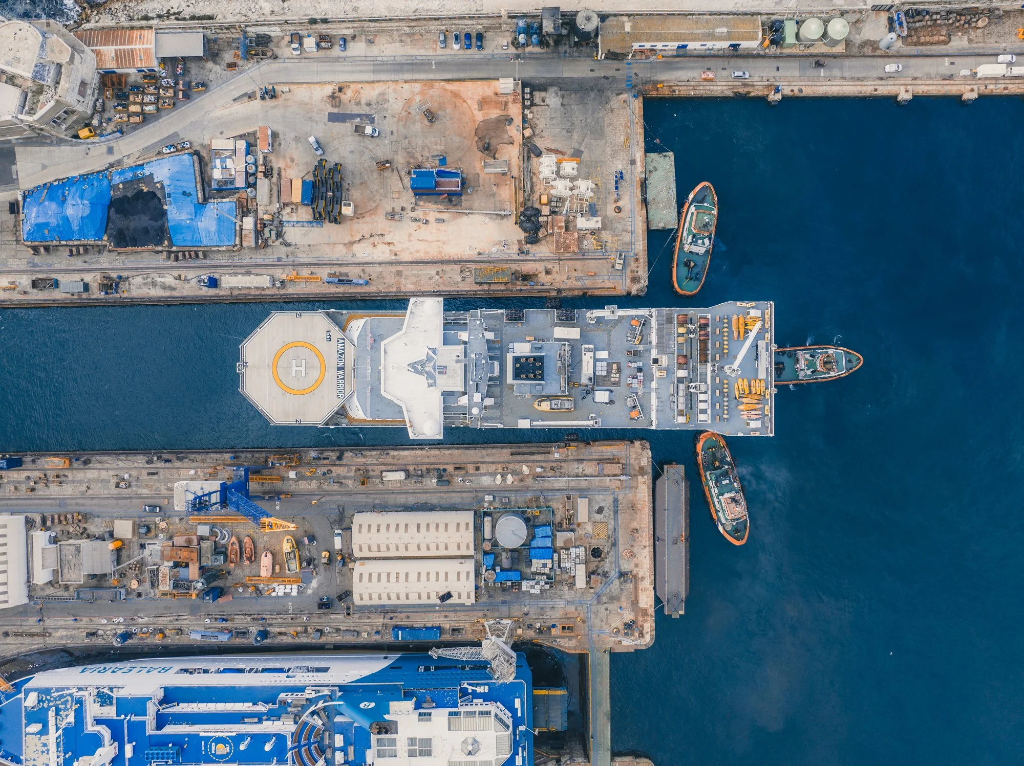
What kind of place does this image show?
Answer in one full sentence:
This looks like a port.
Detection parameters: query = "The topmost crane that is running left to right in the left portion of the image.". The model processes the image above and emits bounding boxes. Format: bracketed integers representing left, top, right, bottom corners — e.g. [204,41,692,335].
[174,465,325,533]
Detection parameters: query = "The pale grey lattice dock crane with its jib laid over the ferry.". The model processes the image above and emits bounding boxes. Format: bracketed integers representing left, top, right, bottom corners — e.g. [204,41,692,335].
[427,617,527,684]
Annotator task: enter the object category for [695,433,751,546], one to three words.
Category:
boat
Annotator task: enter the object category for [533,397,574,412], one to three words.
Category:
boat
